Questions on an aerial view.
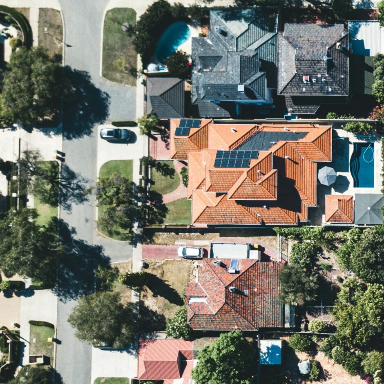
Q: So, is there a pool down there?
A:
Yes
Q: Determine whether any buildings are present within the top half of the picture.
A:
Yes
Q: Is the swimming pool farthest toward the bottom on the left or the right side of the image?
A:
right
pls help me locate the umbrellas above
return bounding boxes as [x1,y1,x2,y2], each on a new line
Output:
[354,194,384,224]
[319,167,336,185]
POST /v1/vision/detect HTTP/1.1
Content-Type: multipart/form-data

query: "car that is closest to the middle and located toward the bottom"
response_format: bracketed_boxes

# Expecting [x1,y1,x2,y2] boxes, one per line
[178,245,205,258]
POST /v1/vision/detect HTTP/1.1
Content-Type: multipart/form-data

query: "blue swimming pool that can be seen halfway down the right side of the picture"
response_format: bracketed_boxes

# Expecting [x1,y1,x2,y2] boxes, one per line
[348,140,376,189]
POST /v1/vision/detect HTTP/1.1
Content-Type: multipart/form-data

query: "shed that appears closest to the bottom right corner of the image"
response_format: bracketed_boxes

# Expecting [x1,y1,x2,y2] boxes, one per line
[259,339,285,365]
